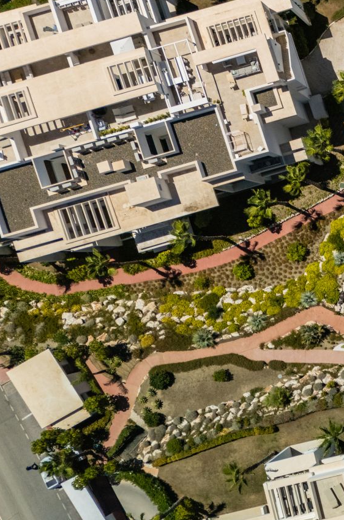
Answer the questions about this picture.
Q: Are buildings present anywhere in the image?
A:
Yes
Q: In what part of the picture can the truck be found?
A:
bottom left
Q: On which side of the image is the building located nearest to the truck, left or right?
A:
left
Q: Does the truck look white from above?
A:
Yes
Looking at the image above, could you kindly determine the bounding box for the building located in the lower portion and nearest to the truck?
[7,347,97,434]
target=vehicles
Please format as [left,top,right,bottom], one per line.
[44,466,105,520]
